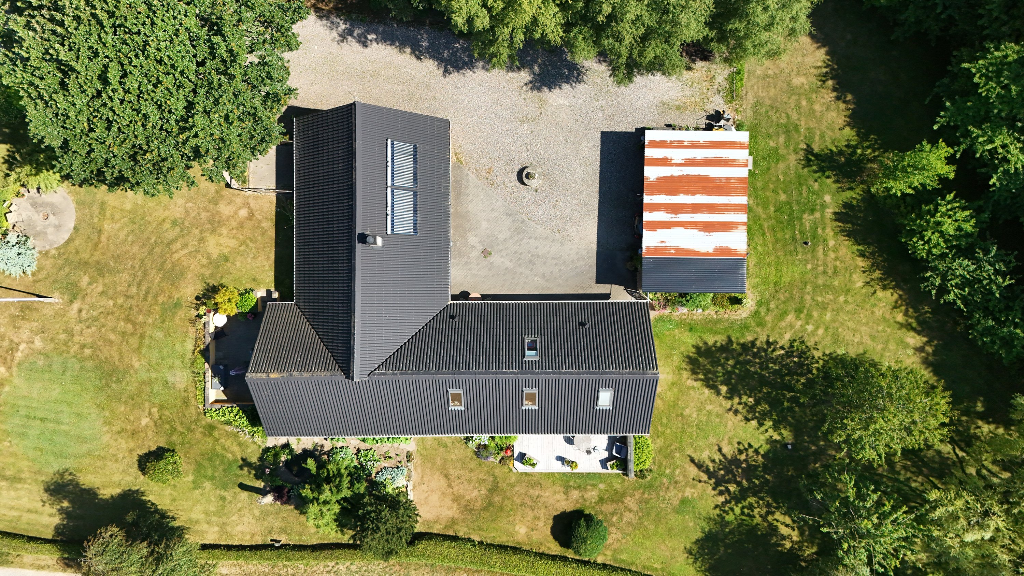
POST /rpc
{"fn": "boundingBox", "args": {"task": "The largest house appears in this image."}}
[245,88,660,436]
